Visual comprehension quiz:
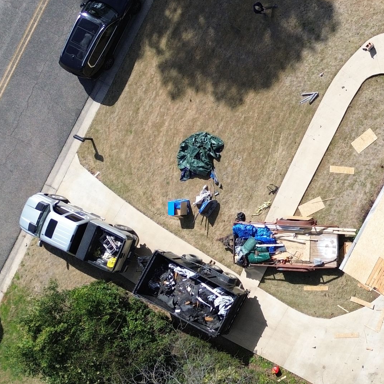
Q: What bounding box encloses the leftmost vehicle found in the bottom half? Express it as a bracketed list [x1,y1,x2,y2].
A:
[15,193,139,274]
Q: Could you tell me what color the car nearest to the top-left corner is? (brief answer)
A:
black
